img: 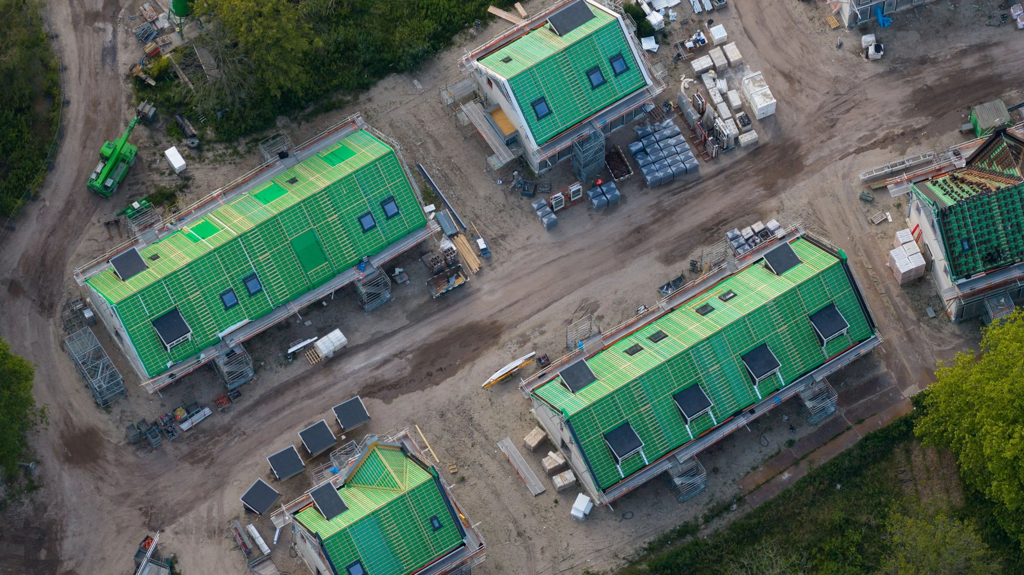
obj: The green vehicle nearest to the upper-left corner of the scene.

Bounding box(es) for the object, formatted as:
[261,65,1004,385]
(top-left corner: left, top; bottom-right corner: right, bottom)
[86,101,155,199]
